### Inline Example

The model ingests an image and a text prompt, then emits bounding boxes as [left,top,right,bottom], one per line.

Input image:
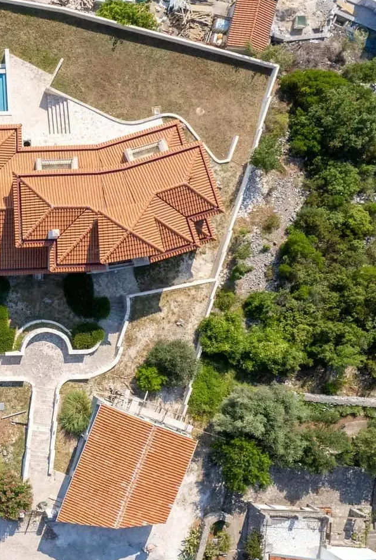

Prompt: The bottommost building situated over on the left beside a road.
[55,392,198,530]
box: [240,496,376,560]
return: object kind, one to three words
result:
house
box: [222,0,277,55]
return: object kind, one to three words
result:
shed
